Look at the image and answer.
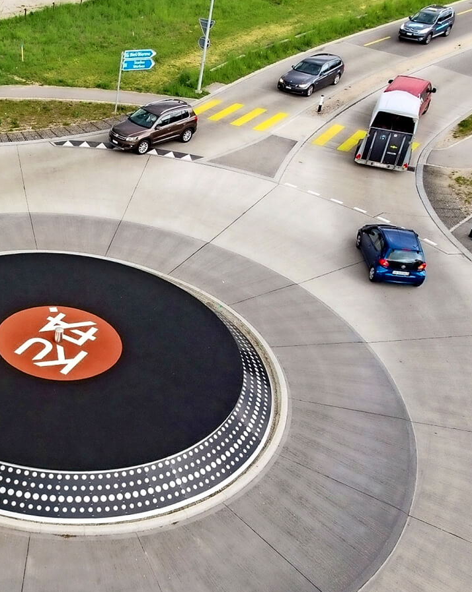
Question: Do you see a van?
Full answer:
Yes, looking at the shot, I can spot a van.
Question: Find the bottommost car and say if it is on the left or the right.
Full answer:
The bottommost car sits on the right side.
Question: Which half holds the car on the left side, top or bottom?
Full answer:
You can find the car on the left side in the top half.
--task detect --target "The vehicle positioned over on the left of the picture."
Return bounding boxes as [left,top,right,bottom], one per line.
[107,95,201,154]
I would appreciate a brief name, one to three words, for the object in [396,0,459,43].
car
